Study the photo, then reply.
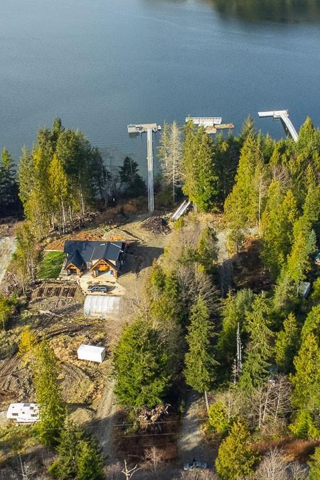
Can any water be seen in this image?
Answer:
Yes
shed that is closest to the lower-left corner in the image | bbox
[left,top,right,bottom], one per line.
[77,342,108,363]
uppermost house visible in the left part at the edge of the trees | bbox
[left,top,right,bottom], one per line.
[62,235,129,281]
